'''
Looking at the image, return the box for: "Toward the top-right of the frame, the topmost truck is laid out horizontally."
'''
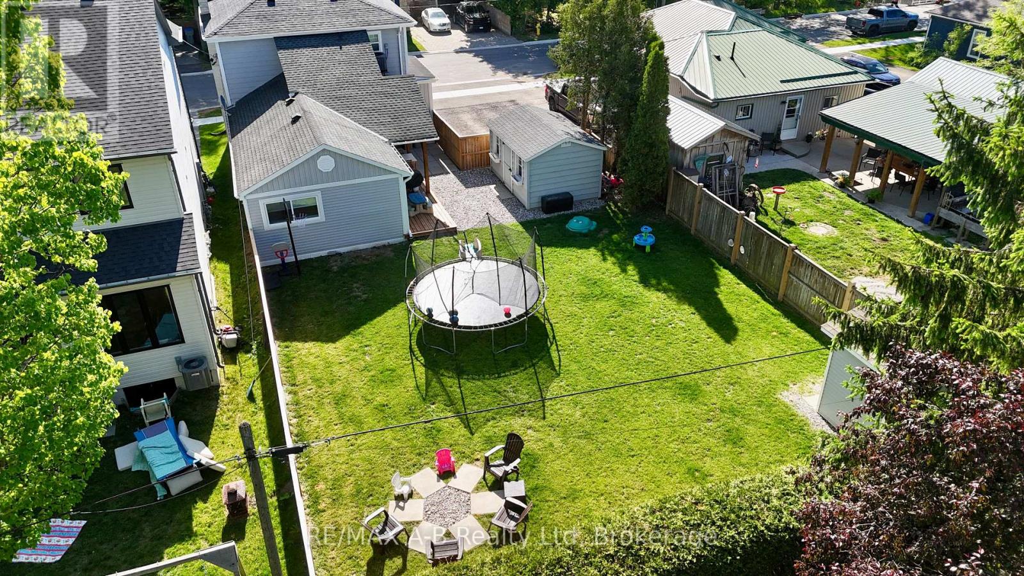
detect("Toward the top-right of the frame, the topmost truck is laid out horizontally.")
[843,0,925,34]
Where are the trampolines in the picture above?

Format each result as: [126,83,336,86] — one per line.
[399,212,544,356]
